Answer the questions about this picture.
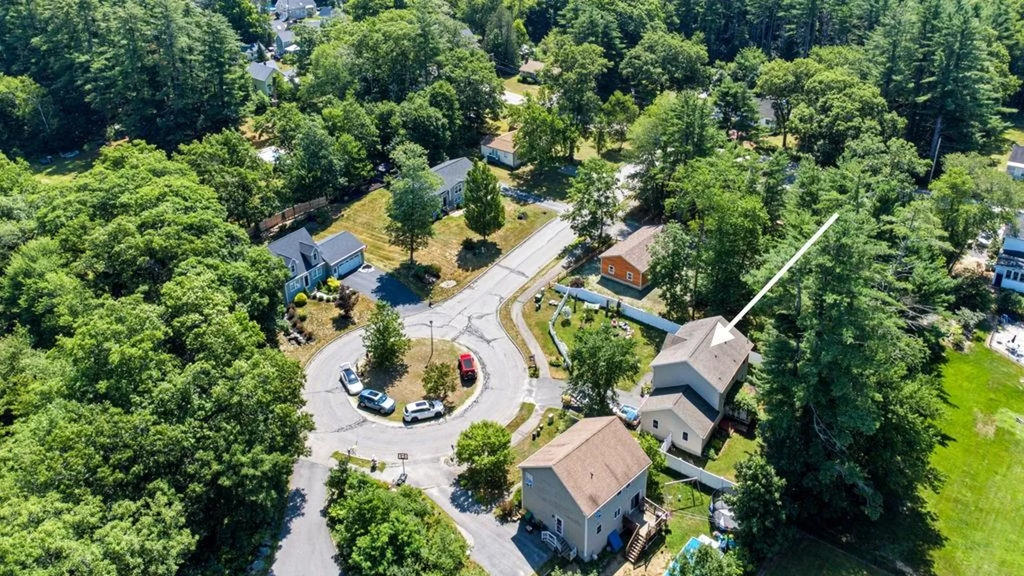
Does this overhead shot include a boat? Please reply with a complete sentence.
Yes, a boat is visible in the scene.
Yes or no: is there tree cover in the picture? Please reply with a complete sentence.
Yes, some tree cover is visible.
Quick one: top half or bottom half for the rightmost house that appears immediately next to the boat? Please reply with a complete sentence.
The rightmost house that appears immediately next to the boat is in the bottom half of the image.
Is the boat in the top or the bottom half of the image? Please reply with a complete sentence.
Seen from above, the boat lies in the bottom half of the view.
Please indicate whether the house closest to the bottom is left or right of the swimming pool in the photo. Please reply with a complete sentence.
Relative to the swimming pool, the house closest to the bottom is on the left.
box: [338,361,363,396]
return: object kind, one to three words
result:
car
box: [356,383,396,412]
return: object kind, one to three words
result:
car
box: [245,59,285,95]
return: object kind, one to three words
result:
building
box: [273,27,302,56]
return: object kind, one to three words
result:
house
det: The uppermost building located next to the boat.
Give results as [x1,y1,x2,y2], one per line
[638,314,769,456]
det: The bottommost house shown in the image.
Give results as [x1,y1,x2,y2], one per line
[518,415,677,562]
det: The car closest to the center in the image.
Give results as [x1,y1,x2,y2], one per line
[457,354,477,380]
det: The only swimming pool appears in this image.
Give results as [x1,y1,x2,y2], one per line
[666,538,730,576]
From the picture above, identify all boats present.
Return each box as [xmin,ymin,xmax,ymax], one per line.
[607,398,642,429]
